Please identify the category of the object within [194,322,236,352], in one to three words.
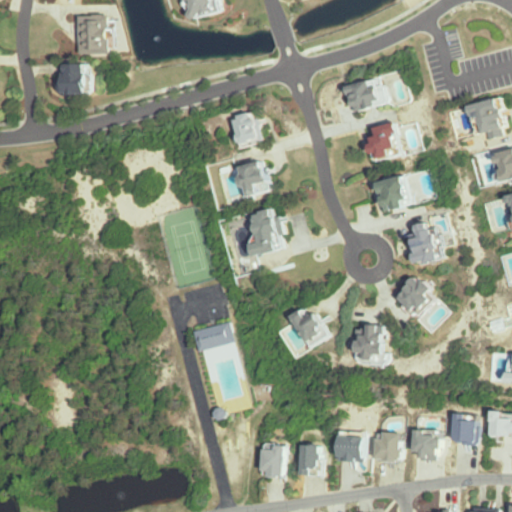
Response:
building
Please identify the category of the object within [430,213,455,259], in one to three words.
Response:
swimming pool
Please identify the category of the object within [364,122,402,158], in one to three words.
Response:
house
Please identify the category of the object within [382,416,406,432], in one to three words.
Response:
swimming pool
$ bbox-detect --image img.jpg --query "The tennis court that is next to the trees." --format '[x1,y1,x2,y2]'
[164,208,210,288]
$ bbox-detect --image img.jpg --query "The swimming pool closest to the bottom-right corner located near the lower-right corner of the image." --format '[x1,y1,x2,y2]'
[418,417,446,432]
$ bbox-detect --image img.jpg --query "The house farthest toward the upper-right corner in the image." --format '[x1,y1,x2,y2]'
[464,96,511,140]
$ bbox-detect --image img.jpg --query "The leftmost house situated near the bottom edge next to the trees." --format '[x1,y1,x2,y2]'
[259,443,290,486]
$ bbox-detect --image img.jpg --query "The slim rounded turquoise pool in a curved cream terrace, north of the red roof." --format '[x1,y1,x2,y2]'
[382,72,413,106]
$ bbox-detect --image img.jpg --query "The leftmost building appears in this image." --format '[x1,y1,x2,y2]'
[54,62,94,95]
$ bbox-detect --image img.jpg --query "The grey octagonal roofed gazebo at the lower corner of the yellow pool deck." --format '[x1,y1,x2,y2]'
[212,405,228,422]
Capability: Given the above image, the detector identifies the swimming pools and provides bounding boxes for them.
[406,172,436,208]
[382,72,413,106]
[418,417,446,432]
[220,166,242,204]
[200,323,254,414]
[450,110,472,138]
[430,213,455,259]
[400,122,422,154]
[418,299,452,334]
[485,200,512,234]
[280,324,310,359]
[500,253,512,286]
[382,416,406,432]
[492,352,509,383]
[474,152,512,188]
